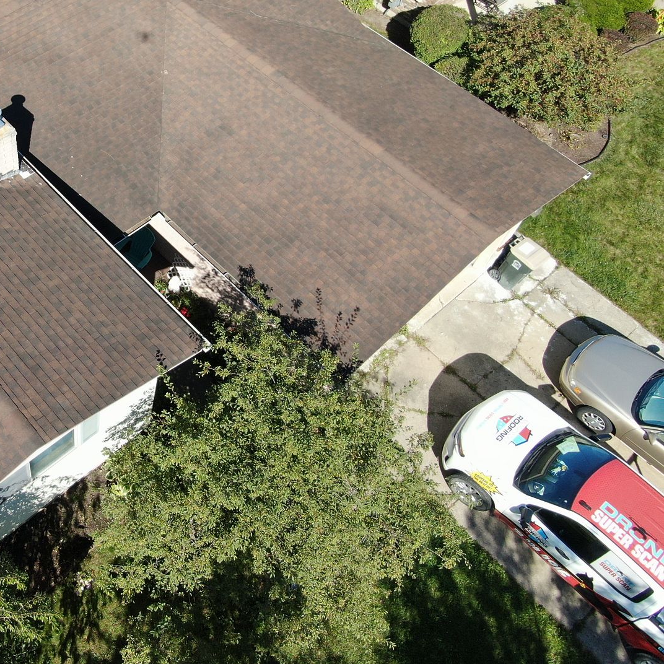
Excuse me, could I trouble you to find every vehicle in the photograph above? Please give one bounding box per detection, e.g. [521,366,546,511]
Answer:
[442,389,664,664]
[548,330,664,473]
